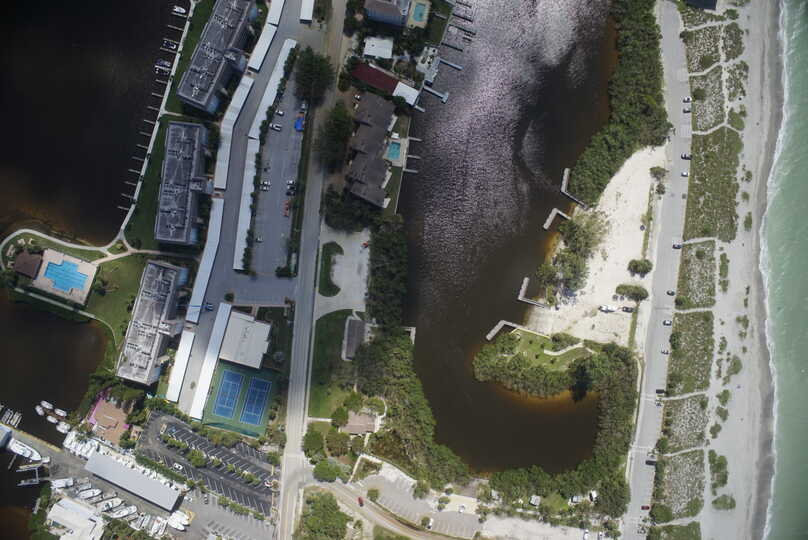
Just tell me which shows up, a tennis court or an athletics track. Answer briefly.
tennis court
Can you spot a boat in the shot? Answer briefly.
Yes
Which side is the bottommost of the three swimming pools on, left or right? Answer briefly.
left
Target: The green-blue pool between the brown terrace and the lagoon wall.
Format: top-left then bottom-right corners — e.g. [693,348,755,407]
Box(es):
[385,139,406,166]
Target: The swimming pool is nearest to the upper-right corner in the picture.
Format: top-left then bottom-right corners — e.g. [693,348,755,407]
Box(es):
[407,0,431,28]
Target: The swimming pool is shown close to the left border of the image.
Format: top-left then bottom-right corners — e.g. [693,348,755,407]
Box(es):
[32,249,98,305]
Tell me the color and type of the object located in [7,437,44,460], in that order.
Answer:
white boat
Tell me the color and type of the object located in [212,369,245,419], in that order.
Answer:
blue tennis court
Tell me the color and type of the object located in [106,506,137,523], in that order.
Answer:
white boat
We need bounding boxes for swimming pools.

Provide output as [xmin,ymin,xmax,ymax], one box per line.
[407,0,431,28]
[385,139,406,166]
[32,249,98,305]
